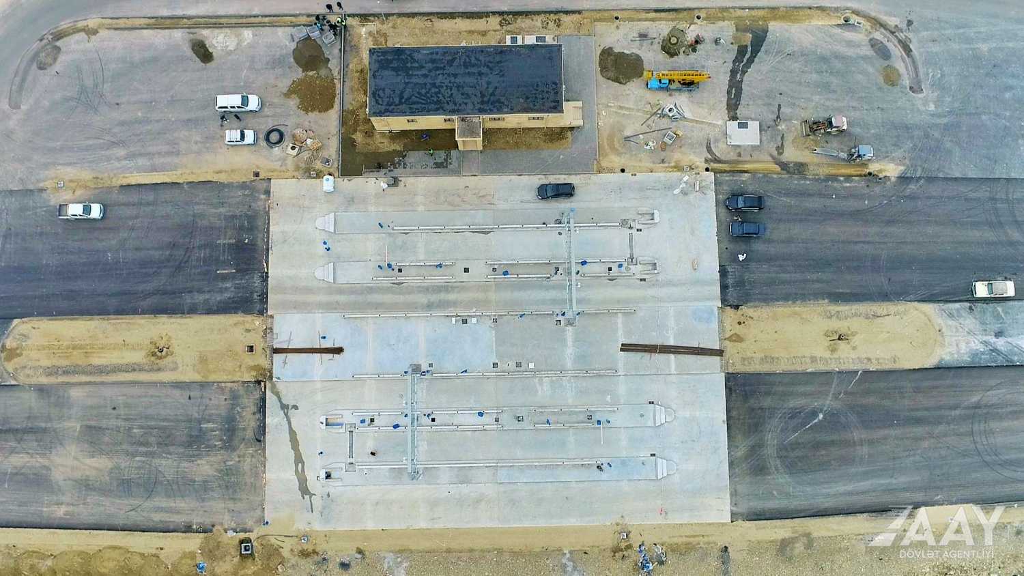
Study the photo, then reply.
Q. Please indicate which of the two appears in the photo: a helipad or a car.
car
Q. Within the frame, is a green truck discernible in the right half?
No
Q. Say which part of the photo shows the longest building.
top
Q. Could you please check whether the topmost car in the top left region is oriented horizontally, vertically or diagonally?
horizontally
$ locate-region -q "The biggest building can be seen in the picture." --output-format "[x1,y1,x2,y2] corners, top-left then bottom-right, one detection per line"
[365,43,585,150]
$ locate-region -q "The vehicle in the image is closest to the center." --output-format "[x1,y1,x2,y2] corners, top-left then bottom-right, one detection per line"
[536,183,573,202]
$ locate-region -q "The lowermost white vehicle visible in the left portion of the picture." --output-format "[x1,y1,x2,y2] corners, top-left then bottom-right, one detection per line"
[56,202,102,221]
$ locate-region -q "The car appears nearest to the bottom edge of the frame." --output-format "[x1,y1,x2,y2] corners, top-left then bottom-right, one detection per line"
[974,280,1017,298]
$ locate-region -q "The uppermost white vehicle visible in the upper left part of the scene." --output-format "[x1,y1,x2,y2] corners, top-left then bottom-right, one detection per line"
[215,93,260,114]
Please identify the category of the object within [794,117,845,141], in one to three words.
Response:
work vehicle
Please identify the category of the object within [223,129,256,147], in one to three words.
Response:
car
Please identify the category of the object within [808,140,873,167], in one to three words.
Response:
work vehicle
